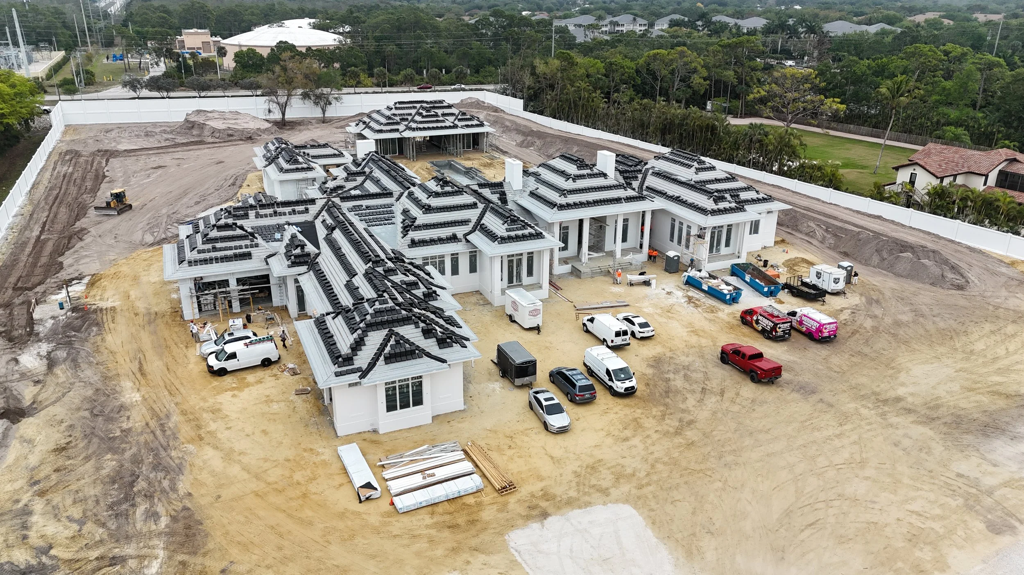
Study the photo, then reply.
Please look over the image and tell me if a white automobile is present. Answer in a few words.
Yes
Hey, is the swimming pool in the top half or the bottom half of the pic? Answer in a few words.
top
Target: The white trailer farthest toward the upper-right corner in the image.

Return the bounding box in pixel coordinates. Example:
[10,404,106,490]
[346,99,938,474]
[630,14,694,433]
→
[806,261,852,295]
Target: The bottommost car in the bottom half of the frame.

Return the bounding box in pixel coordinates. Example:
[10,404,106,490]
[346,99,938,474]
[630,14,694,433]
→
[528,391,572,434]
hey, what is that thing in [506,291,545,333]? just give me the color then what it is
white trailer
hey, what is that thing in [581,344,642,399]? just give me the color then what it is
white van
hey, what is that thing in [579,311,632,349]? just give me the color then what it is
white van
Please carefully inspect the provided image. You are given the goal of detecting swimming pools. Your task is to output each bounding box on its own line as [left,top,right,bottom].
[425,159,492,195]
